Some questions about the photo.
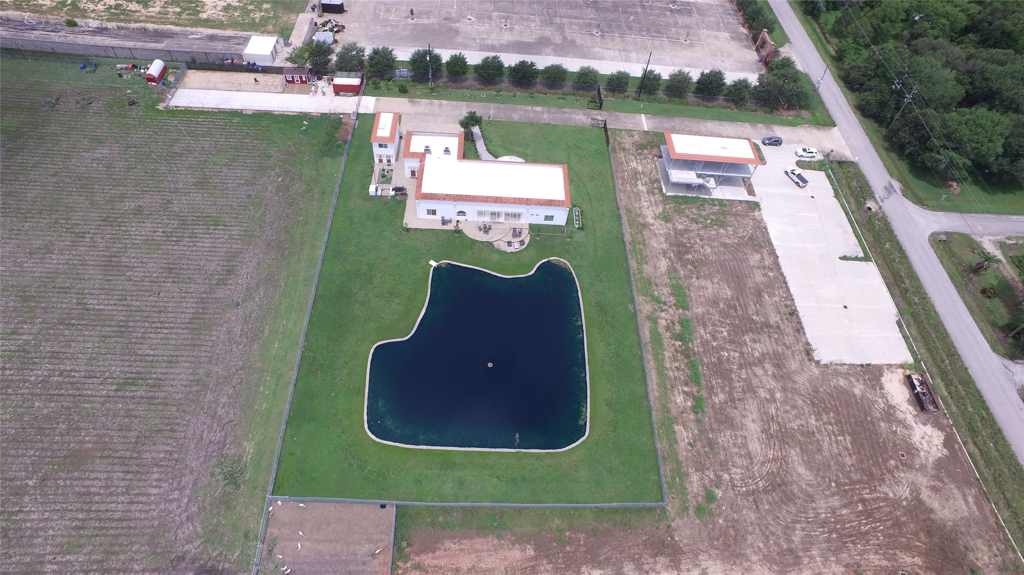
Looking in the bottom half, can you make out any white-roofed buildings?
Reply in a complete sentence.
No, no white-roofed building can be made out in the bottom half.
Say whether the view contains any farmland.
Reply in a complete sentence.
Yes, some farmland is visible.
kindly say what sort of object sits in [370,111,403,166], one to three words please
house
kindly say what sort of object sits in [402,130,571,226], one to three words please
house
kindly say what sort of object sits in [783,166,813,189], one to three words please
truck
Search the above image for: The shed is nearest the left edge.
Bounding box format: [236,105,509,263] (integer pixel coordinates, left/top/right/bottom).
[141,59,168,82]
